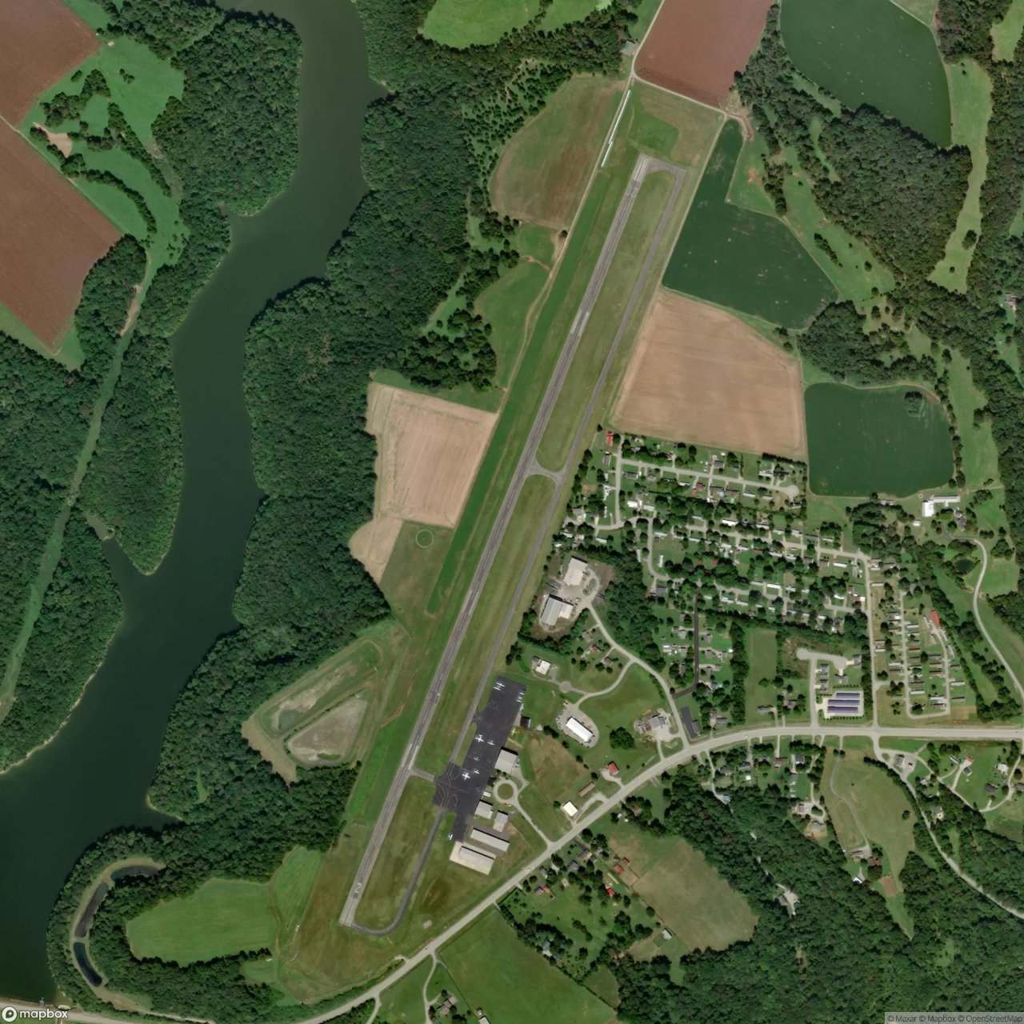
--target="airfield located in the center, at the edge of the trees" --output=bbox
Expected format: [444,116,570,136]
[339,153,685,935]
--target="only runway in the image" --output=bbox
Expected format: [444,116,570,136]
[339,153,653,926]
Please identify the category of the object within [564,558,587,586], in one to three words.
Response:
building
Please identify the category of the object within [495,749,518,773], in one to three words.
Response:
hangar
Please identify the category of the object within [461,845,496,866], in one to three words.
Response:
hangar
